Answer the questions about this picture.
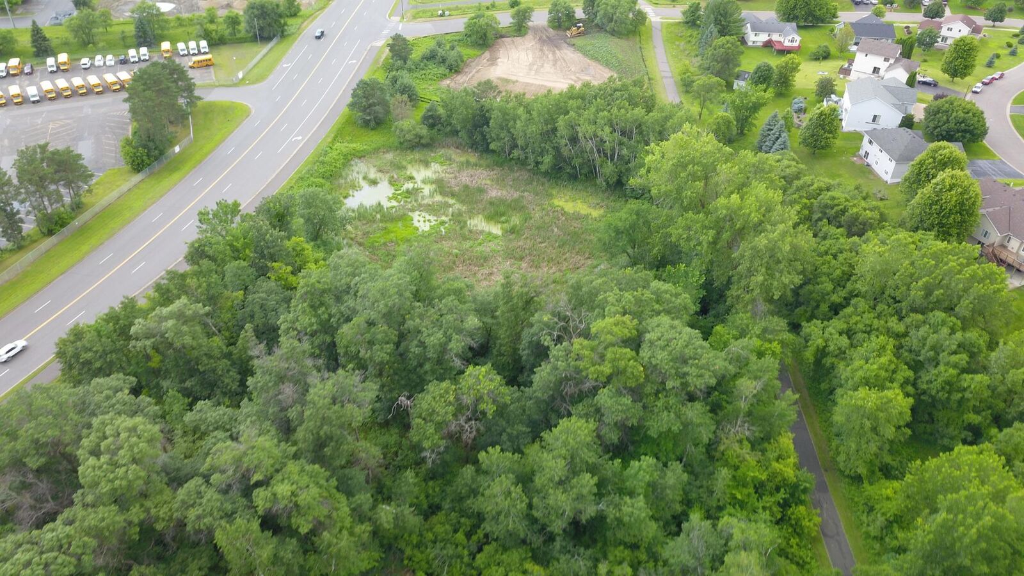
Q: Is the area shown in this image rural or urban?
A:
rural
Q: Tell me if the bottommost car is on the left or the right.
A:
left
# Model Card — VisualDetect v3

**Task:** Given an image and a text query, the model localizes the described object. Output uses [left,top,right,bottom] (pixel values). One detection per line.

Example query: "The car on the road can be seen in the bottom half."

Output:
[0,342,26,364]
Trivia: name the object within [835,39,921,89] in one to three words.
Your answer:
house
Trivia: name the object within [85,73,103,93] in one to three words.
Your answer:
vehicle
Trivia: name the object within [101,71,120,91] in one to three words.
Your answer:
vehicle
